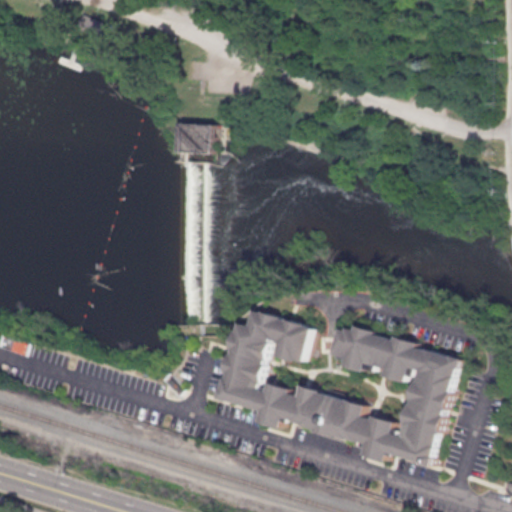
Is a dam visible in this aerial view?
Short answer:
Yes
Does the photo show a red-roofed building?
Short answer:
No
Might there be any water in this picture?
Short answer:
Yes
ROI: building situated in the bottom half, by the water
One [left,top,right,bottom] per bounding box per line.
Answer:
[210,310,463,467]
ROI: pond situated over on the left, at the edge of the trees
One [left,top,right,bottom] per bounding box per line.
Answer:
[0,48,184,350]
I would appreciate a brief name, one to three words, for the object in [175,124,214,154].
building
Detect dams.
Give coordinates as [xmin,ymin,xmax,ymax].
[176,154,244,338]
